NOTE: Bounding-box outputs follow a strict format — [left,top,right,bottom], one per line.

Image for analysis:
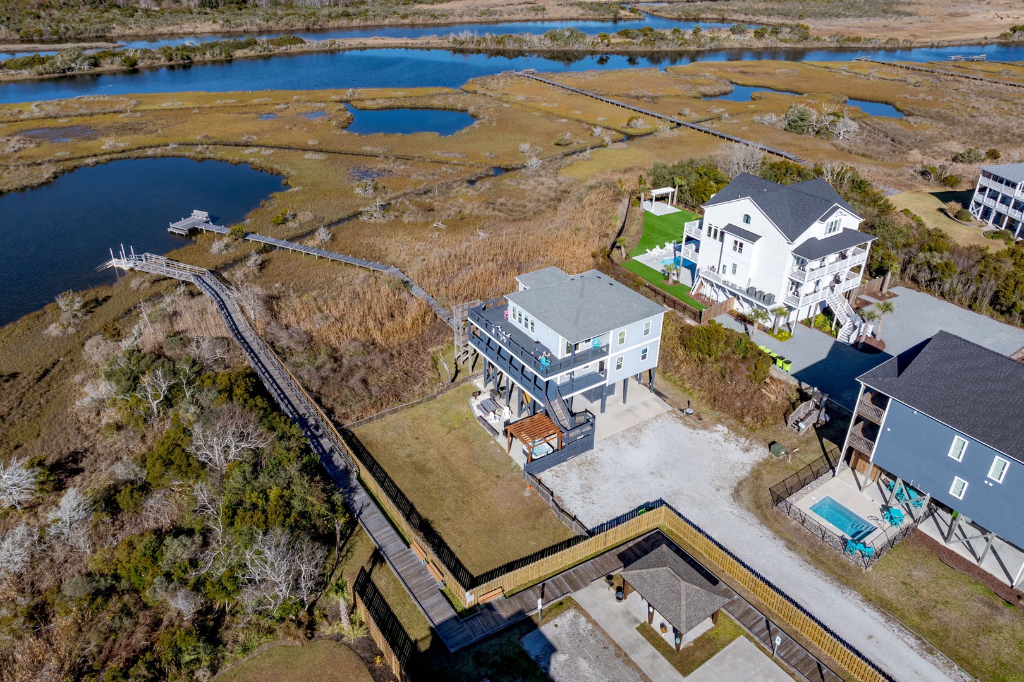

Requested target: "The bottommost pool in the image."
[807,494,879,542]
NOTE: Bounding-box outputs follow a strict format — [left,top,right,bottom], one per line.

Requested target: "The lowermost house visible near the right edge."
[835,331,1024,589]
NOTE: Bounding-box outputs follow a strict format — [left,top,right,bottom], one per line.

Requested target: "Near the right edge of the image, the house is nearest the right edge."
[969,164,1024,237]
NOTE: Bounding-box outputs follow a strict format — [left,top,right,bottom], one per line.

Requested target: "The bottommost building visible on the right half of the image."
[618,544,730,654]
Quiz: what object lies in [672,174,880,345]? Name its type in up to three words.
house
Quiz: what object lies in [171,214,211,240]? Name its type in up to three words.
pier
